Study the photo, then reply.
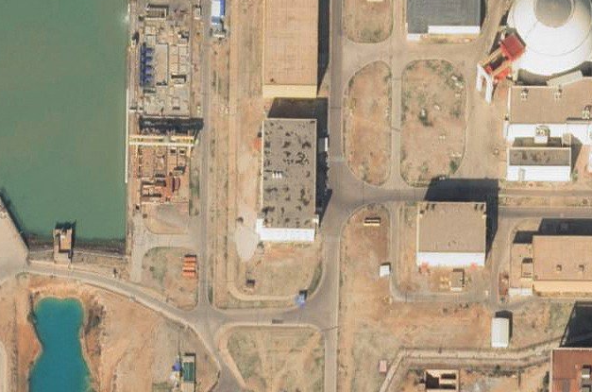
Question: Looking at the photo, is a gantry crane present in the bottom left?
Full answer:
No, in the bottom left there is no gantry crane.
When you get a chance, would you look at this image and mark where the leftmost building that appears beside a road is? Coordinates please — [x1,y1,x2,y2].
[53,228,72,261]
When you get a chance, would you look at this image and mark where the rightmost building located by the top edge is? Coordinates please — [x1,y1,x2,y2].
[505,0,592,87]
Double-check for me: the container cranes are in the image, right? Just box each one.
[129,135,197,164]
[476,34,524,103]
